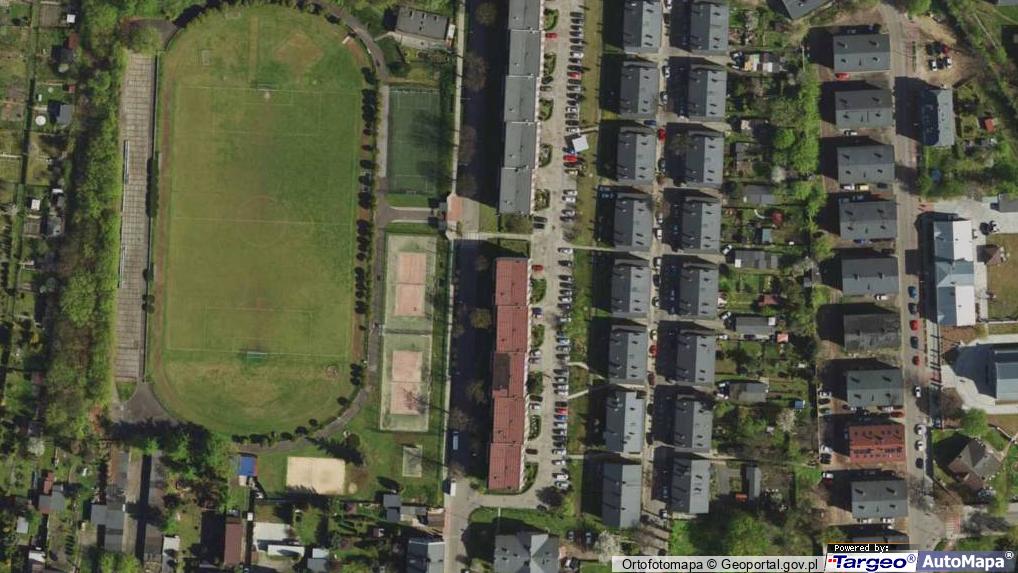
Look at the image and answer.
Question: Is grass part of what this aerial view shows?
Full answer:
Yes, grass can be seen from above here.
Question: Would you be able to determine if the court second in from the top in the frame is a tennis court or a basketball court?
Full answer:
It looks like the court second in from the top is a tennis court.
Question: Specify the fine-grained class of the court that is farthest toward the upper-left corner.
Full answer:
It looks like the court that is farthest toward the upper-left corner is a tennis court.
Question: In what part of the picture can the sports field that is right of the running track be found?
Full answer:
You can find the sports field that is right of the running track in the top area of the picture.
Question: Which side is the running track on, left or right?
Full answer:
The running track is on the left side of the image.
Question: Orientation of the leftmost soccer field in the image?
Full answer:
In this picture, the leftmost soccer field is oriented vertically.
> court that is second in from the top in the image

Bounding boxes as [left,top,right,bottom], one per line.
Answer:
[379,335,431,431]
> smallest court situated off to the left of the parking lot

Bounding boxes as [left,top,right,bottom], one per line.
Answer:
[402,444,423,478]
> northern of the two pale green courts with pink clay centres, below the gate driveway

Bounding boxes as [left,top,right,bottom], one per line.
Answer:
[384,235,437,331]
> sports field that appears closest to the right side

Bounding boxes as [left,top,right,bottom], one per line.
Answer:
[386,88,439,194]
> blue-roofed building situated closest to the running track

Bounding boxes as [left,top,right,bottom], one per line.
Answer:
[241,456,257,477]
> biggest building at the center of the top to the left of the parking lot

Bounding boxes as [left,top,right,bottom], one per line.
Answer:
[395,7,448,40]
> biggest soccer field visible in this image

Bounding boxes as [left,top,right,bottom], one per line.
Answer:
[148,3,362,434]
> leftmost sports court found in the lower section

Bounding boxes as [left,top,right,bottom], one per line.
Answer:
[286,458,344,495]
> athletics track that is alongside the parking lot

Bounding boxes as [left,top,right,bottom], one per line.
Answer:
[152,8,371,430]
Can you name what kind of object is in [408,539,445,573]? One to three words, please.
house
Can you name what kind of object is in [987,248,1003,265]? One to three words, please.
gazebo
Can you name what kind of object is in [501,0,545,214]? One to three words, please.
building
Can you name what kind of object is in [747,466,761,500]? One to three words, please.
shed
